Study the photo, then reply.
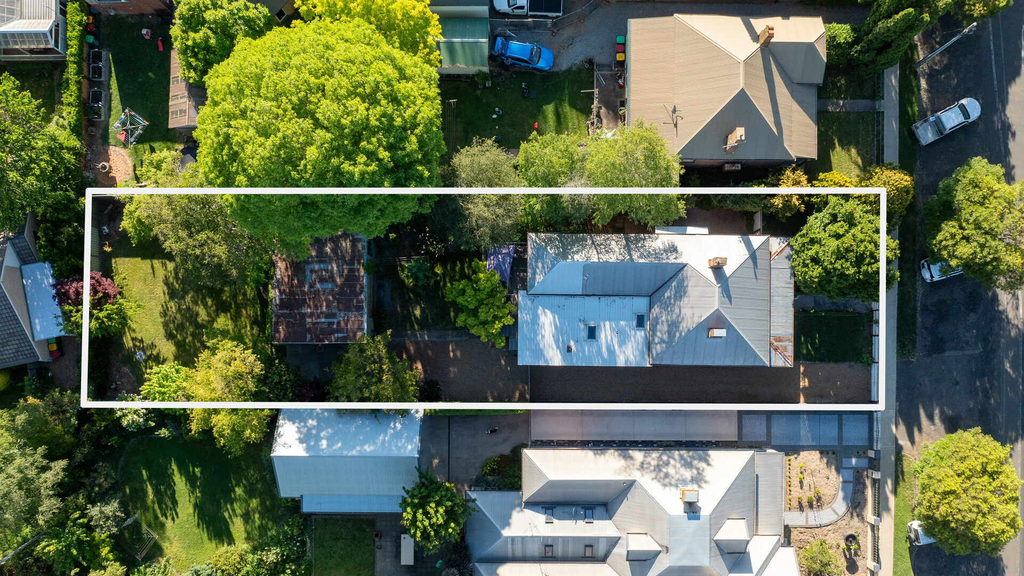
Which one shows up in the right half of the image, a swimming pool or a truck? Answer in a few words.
truck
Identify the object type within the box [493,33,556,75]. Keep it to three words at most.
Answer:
car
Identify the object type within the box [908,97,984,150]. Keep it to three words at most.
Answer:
truck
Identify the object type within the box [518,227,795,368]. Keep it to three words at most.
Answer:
house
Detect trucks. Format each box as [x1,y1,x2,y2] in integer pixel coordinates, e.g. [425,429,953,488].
[908,97,984,150]
[492,0,566,21]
